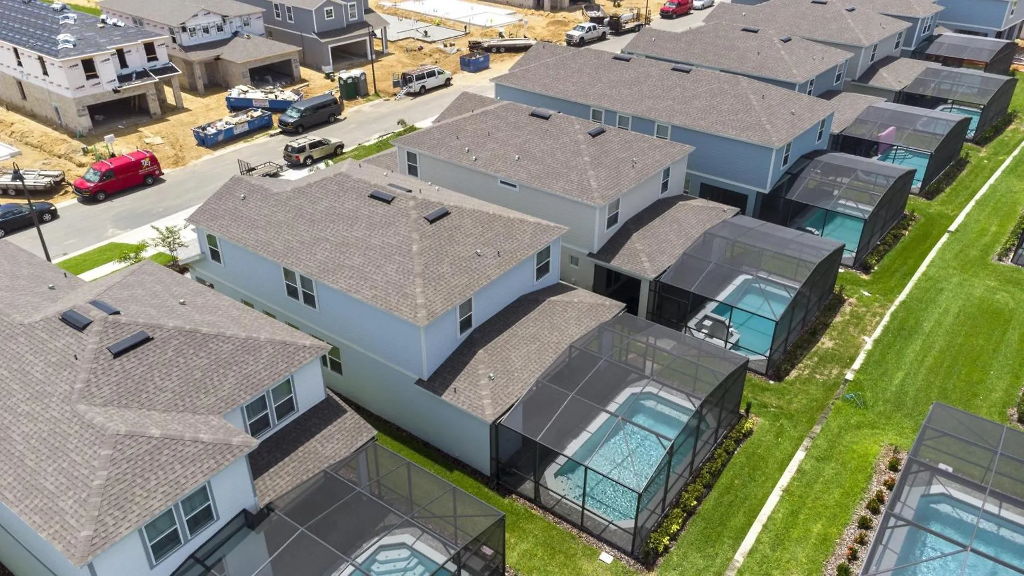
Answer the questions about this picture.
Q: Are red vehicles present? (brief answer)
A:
Yes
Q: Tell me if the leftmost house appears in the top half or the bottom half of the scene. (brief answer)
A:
top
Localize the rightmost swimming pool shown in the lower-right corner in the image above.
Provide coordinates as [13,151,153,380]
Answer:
[878,492,1024,576]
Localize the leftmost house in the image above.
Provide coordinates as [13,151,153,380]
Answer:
[0,0,187,132]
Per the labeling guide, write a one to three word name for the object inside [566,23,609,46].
truck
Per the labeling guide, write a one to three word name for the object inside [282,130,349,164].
car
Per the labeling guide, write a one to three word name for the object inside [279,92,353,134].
van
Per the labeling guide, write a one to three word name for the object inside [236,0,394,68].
house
